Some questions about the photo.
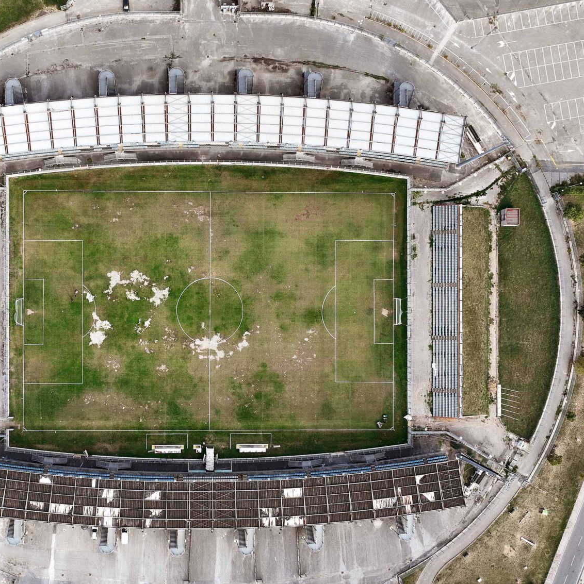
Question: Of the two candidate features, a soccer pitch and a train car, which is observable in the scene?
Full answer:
The image shows a soccer pitch.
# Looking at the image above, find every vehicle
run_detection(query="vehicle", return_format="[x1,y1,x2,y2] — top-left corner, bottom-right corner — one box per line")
[91,527,98,541]
[122,0,129,11]
[120,529,128,546]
